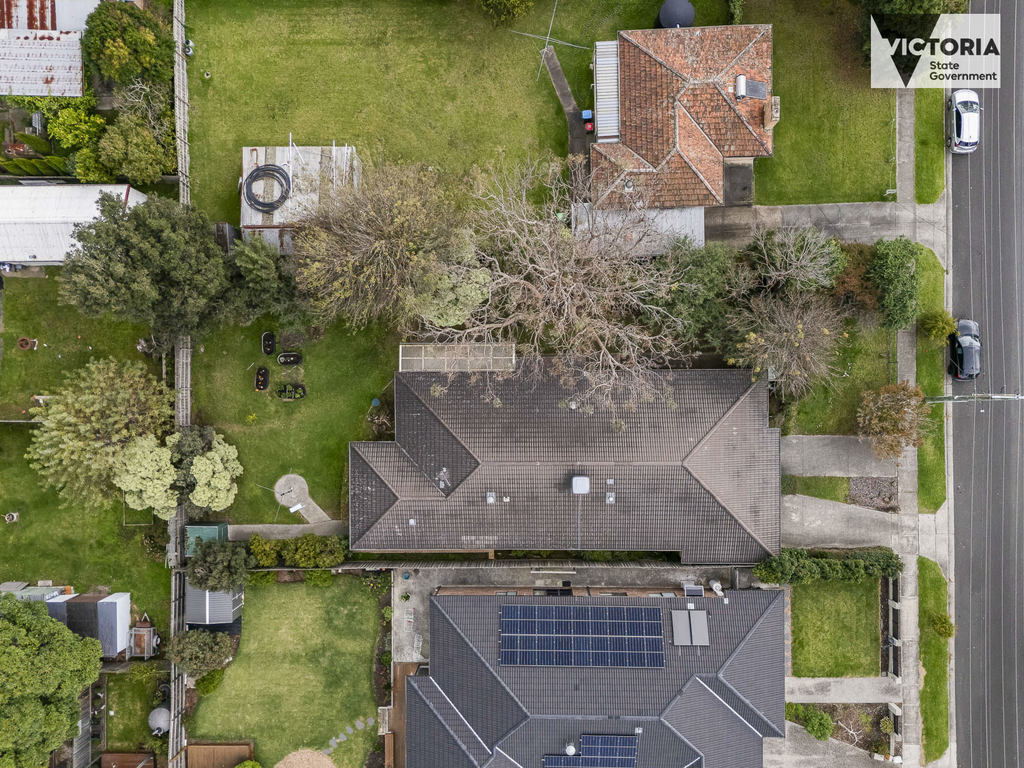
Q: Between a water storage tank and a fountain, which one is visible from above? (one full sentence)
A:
I can see a water storage tank in this picture.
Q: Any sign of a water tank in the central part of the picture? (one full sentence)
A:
No, looking in the central part of the picture, there is no water tank.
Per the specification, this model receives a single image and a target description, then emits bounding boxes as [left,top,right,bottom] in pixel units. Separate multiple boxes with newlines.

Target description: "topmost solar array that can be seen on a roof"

[498,605,666,668]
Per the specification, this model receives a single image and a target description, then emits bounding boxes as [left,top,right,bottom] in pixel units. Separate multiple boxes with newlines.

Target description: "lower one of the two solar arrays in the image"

[542,736,639,768]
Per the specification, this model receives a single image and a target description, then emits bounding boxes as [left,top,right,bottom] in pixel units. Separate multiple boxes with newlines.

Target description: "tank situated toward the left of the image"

[141,707,173,741]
